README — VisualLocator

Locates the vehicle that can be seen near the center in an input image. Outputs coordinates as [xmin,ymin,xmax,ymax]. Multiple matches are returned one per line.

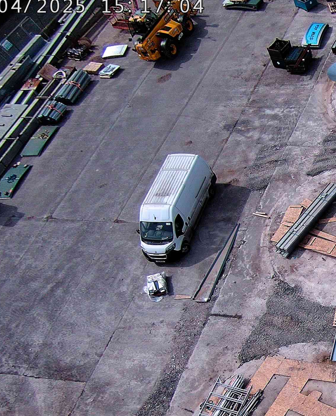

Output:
[140,152,218,264]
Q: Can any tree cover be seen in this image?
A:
No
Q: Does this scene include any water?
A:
No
